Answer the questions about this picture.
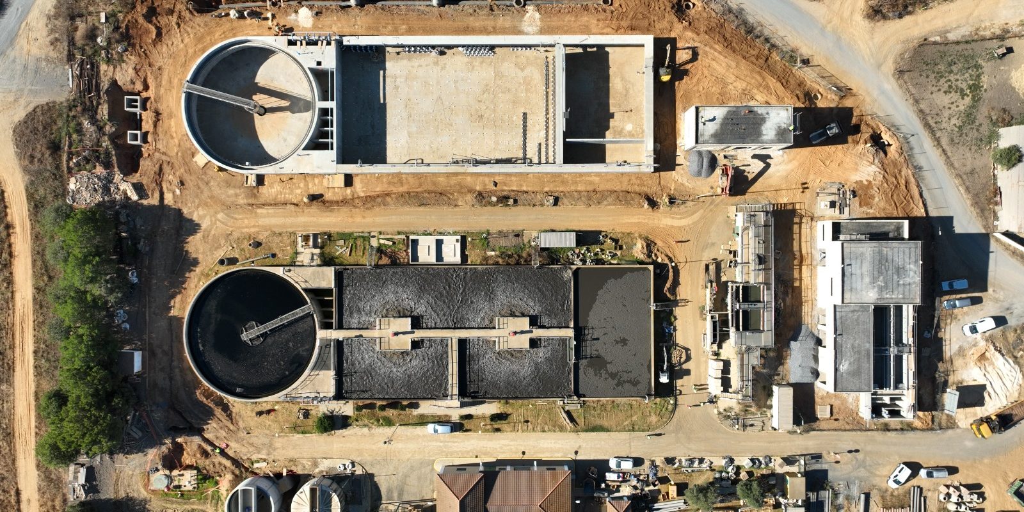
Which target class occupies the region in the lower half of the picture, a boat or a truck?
truck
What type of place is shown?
industrial area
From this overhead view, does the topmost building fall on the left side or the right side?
right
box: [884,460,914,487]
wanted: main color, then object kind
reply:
white vehicle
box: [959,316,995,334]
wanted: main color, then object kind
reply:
white car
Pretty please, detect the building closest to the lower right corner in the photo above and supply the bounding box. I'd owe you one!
[935,386,959,411]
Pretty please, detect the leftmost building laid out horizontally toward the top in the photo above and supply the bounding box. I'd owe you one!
[685,106,799,152]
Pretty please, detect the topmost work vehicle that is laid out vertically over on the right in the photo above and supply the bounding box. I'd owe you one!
[657,47,672,82]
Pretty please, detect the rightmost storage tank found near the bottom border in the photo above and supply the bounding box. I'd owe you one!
[290,477,347,512]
